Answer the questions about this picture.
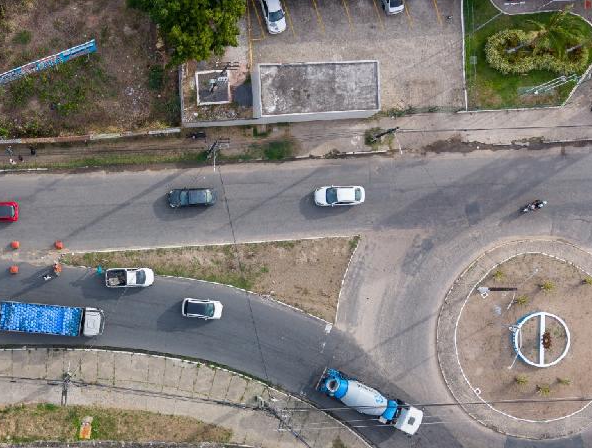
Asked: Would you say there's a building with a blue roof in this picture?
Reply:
No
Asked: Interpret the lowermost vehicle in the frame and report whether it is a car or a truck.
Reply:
truck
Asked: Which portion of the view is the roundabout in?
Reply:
bottom right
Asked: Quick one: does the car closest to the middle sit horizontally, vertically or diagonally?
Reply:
horizontally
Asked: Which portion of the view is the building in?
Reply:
top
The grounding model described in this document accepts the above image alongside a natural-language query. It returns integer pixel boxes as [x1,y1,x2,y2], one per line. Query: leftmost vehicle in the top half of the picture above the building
[260,0,287,35]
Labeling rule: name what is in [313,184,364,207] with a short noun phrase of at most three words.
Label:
car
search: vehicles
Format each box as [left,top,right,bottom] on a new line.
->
[0,301,109,339]
[522,202,545,212]
[167,185,214,208]
[0,202,19,222]
[106,266,153,289]
[182,298,222,320]
[383,0,405,16]
[260,0,287,35]
[313,184,364,207]
[314,366,422,438]
[188,131,207,138]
